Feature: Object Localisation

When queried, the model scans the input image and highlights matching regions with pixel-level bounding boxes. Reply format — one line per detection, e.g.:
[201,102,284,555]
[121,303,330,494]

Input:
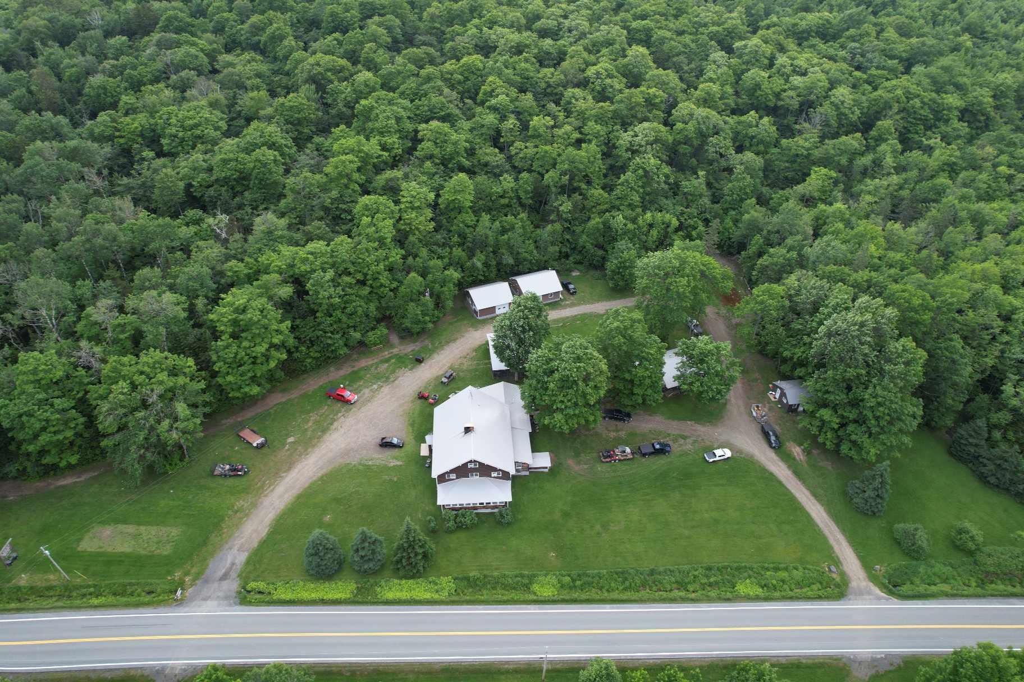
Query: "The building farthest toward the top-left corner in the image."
[466,280,513,318]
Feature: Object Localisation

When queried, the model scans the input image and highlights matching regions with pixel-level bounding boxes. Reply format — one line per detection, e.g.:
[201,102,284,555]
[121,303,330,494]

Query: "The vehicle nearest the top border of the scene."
[559,281,580,296]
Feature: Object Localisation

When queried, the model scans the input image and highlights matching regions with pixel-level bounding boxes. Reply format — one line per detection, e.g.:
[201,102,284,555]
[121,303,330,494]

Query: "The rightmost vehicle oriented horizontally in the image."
[703,448,733,463]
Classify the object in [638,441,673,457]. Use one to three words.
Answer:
vehicle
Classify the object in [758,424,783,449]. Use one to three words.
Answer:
truck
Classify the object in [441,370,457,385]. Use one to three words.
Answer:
vehicle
